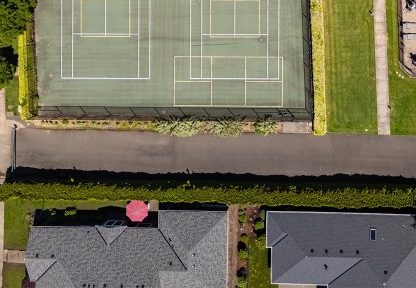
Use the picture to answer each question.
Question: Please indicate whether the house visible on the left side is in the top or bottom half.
bottom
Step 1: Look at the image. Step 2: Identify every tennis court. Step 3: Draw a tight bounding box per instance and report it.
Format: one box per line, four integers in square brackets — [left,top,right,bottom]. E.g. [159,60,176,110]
[168,0,311,116]
[34,0,169,116]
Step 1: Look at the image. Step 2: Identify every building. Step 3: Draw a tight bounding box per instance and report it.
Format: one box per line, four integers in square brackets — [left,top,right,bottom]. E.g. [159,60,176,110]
[23,205,229,288]
[266,206,416,288]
